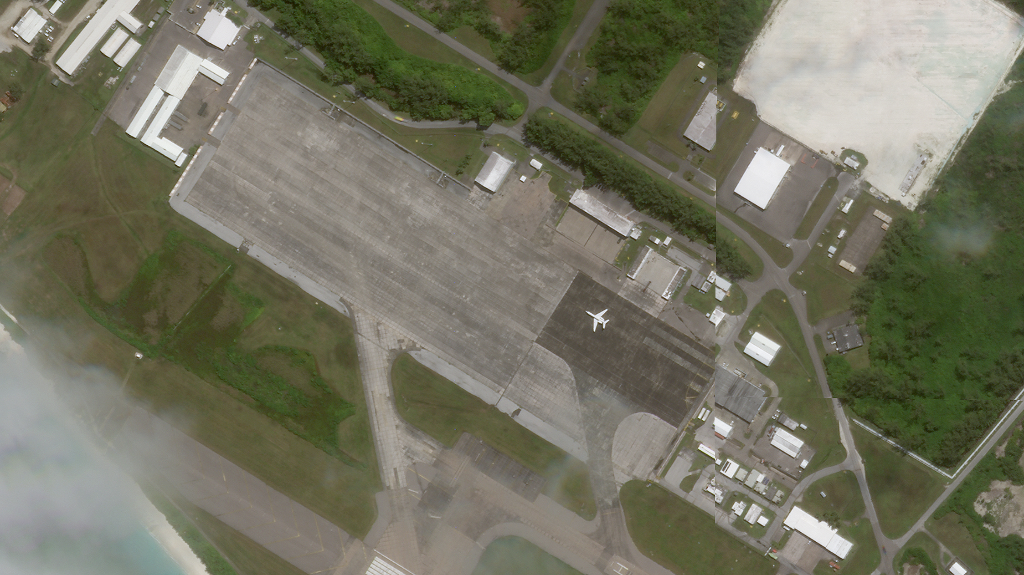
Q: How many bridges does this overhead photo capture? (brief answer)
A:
0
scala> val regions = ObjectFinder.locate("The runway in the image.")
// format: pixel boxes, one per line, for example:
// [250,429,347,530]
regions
[100,403,415,575]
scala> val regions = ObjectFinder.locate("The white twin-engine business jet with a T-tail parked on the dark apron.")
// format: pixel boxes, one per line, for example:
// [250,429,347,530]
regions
[586,310,609,332]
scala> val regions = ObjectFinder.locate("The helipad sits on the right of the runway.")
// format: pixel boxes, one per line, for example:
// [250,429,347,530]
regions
[604,555,638,575]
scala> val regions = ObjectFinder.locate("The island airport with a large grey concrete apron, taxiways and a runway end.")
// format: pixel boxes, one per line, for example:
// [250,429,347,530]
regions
[100,61,716,575]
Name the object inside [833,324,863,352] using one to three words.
house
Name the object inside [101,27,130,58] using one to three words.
shed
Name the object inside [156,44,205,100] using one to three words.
building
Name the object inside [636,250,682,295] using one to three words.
hangar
